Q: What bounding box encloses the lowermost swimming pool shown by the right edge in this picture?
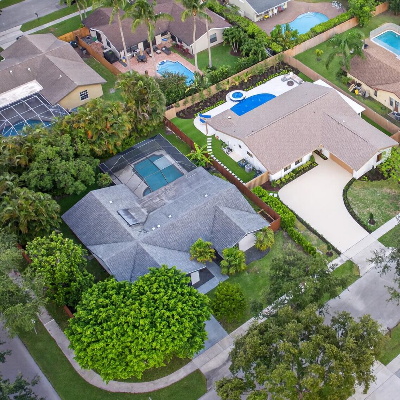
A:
[367,29,400,58]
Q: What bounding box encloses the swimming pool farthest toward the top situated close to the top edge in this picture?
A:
[289,10,329,33]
